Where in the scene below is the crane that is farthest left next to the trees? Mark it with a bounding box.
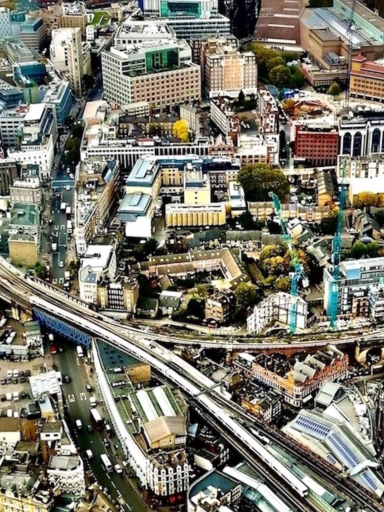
[270,192,313,312]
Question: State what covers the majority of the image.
buildings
